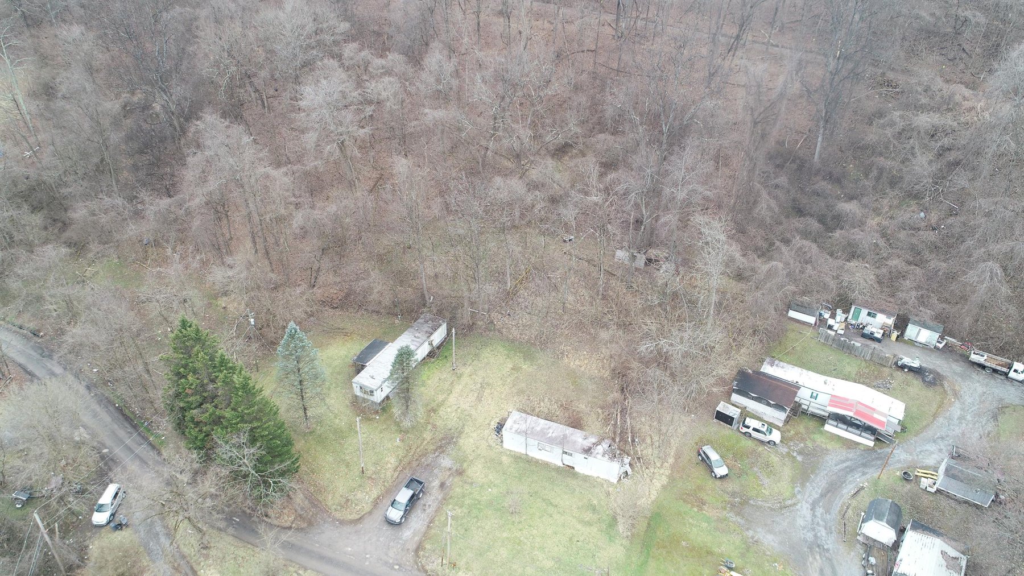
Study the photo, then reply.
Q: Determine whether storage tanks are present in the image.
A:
No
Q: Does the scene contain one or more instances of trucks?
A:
Yes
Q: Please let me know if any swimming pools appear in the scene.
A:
No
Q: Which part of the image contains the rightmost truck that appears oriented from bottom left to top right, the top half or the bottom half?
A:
bottom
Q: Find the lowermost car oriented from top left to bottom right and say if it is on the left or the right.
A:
right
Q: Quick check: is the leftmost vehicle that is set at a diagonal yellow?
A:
No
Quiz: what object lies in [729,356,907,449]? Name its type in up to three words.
house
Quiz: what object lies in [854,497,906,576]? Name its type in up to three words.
shed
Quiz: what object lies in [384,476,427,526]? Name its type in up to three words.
truck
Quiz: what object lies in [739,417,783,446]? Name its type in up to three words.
car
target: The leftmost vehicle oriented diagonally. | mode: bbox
[90,483,128,526]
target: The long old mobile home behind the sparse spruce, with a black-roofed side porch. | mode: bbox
[350,313,448,409]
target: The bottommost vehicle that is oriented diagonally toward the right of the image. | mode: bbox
[696,444,730,479]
